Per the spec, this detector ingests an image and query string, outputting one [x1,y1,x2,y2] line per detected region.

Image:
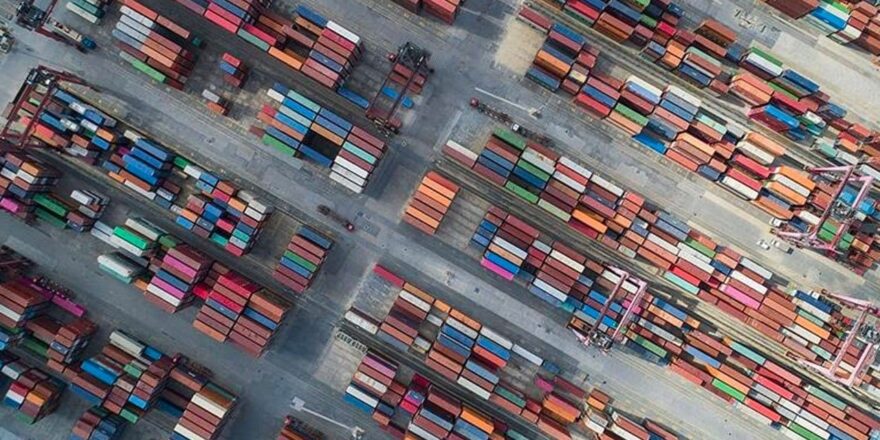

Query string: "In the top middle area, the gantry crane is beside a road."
[364,47,429,138]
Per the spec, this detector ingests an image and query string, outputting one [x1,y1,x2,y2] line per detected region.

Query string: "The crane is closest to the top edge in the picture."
[14,0,85,50]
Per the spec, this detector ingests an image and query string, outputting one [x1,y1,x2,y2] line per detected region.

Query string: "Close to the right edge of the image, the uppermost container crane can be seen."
[775,161,880,251]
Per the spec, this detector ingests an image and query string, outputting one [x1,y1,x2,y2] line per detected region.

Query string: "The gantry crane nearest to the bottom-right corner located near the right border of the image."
[785,288,880,387]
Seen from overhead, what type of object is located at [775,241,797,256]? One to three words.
vehicle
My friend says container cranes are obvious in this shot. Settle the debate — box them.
[565,261,650,354]
[775,161,880,251]
[785,288,880,387]
[364,47,429,138]
[14,0,85,50]
[0,68,99,157]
